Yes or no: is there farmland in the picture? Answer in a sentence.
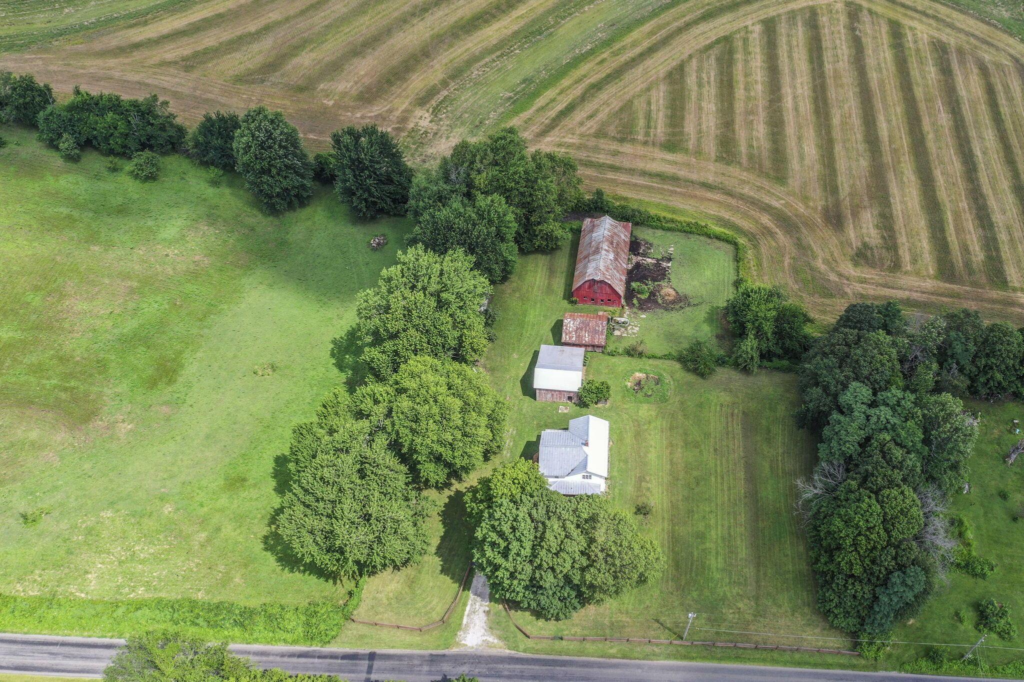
Yes, there's farmland in this view.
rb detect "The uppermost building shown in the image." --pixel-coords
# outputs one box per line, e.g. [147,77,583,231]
[572,215,630,308]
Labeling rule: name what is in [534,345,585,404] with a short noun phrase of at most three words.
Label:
shed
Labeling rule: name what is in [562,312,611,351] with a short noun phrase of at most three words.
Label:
shed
